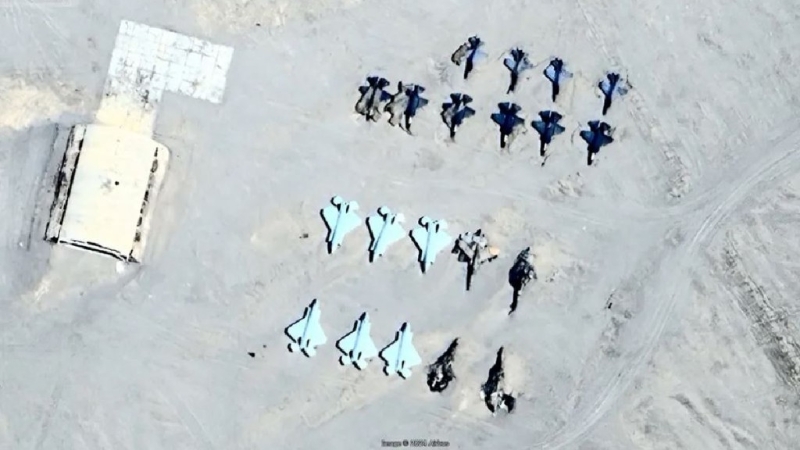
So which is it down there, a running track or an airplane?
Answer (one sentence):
The image shows an airplane.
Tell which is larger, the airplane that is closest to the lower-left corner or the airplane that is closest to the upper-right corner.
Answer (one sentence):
The airplane that is closest to the lower-left corner takes up more space than the airplane that is closest to the upper-right corner.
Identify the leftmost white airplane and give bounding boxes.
[288,301,327,358]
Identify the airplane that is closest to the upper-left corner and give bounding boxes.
[355,74,391,122]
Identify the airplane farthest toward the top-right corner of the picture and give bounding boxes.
[598,72,627,114]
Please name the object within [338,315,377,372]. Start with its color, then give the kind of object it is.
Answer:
white airplane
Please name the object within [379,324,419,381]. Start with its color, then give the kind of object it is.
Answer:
white airplane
